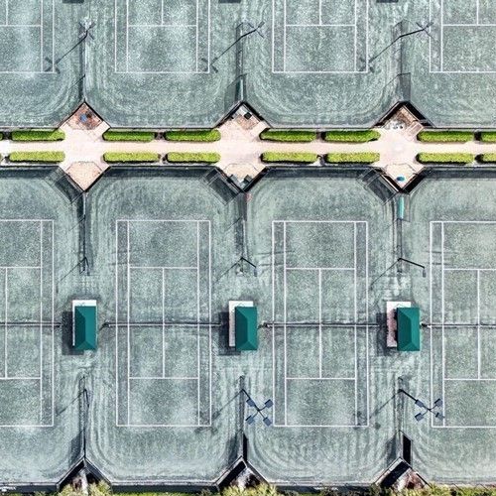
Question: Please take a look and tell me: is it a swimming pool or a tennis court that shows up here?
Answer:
tennis court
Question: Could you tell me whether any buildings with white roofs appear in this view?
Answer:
No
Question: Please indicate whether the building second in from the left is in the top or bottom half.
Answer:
bottom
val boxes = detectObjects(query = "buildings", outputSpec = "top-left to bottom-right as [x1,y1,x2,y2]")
[73,302,96,351]
[230,302,256,351]
[388,302,418,351]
